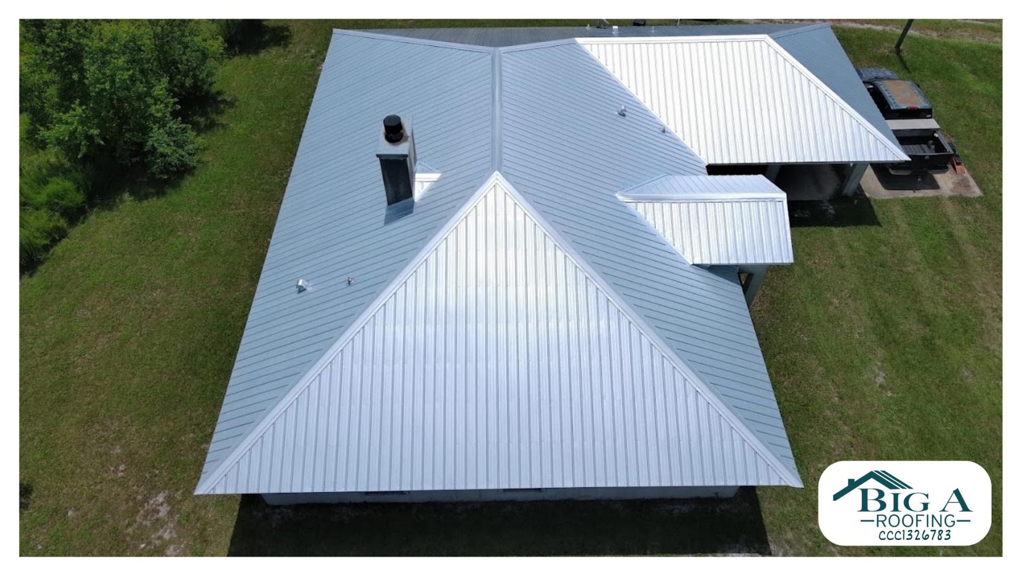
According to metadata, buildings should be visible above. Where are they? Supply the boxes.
[192,22,911,505]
